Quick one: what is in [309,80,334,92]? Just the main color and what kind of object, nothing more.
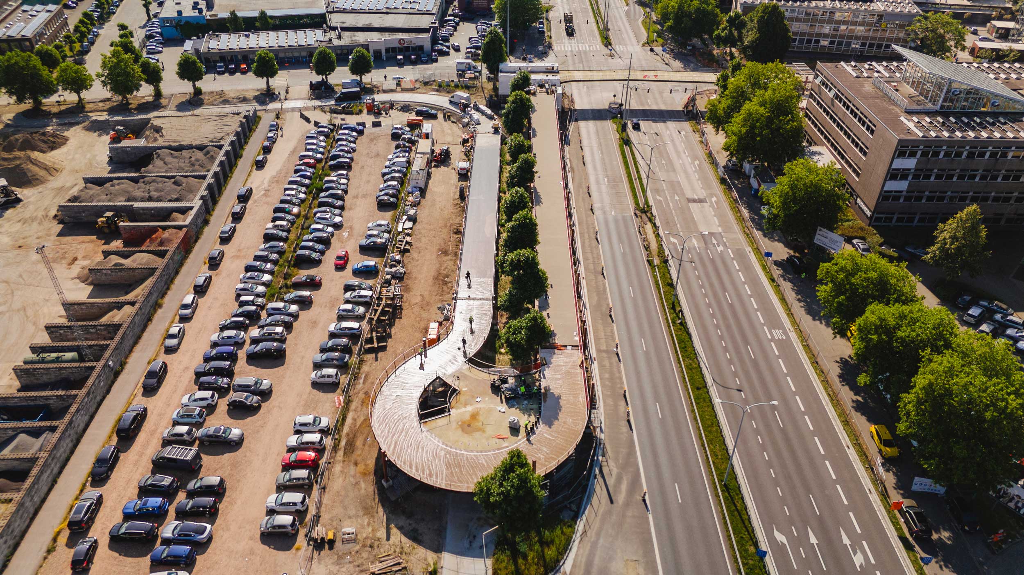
black vehicle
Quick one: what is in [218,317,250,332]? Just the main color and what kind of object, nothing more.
black car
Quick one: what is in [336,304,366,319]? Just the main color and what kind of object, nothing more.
gray car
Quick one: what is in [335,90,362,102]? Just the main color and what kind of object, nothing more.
black vehicle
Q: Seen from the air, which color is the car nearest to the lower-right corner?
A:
black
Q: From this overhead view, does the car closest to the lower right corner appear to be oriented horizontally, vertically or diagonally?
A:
diagonally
